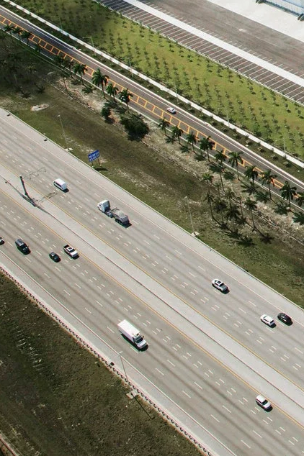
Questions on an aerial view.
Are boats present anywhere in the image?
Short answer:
No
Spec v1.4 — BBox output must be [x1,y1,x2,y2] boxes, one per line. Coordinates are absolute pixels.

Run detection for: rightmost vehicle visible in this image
[276,314,294,327]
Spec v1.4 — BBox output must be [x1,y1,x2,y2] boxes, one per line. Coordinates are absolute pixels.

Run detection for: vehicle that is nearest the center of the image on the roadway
[96,198,131,225]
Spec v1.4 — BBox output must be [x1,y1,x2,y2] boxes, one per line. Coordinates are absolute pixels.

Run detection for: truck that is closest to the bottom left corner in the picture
[116,319,146,349]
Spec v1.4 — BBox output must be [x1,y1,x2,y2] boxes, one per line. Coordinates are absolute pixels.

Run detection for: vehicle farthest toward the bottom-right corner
[253,395,273,412]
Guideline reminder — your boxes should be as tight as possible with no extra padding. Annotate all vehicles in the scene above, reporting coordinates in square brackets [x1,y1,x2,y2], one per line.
[46,252,60,263]
[96,198,131,225]
[14,241,29,254]
[259,316,276,330]
[116,319,146,349]
[276,314,294,327]
[52,180,67,191]
[60,245,78,259]
[253,395,273,412]
[211,281,227,294]
[165,107,176,115]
